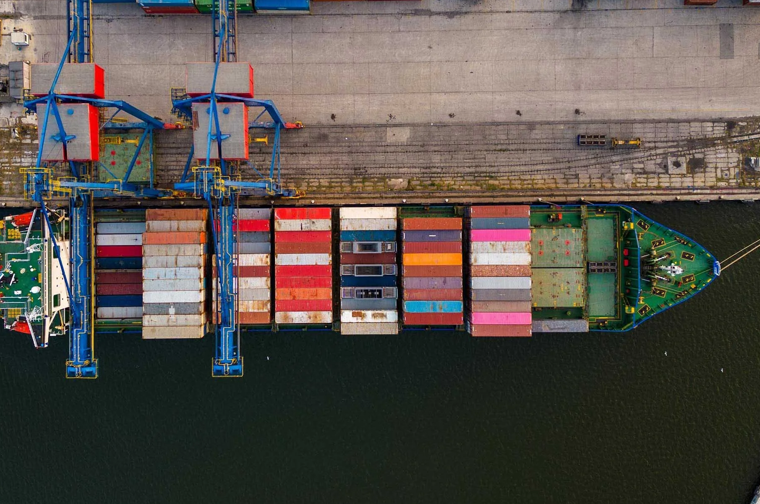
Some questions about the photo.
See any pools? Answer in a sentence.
No, no pool can be seen from above.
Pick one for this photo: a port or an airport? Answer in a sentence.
The picture captures a port.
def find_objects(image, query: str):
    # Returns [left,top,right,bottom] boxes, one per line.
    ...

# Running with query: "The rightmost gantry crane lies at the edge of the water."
[170,0,316,379]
